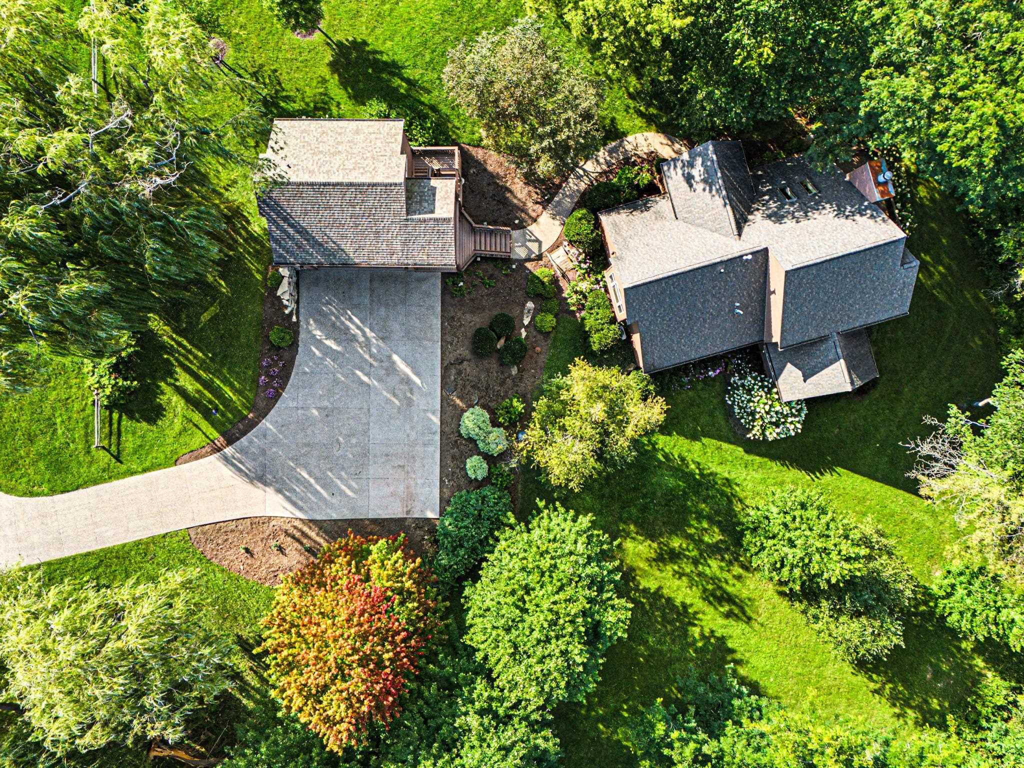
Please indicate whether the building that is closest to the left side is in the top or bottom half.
top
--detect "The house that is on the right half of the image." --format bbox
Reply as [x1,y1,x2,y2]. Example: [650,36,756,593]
[595,139,922,404]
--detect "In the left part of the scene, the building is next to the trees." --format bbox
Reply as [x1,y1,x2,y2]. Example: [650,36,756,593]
[254,120,457,275]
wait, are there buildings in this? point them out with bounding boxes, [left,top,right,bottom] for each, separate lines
[254,120,457,275]
[595,139,922,404]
